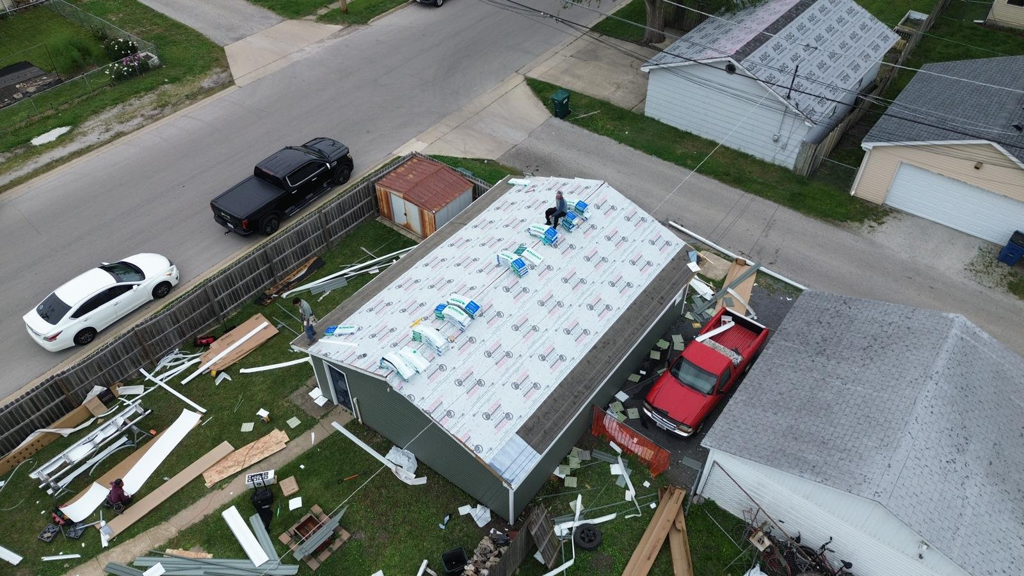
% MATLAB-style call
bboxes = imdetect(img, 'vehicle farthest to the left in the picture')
[28,248,186,351]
